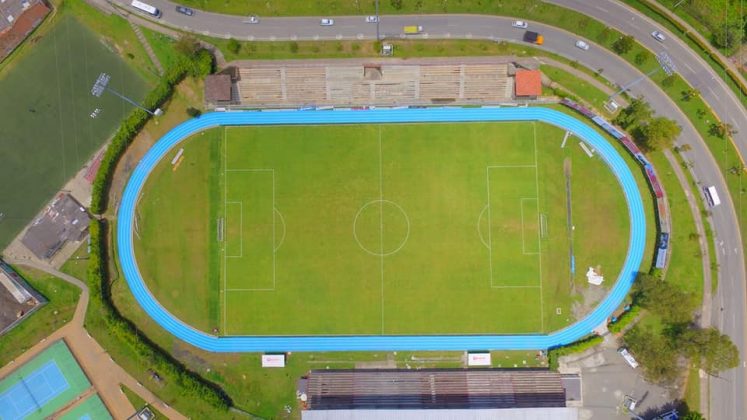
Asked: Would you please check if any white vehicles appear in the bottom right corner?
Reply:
Yes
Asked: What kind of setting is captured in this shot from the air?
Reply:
sports ground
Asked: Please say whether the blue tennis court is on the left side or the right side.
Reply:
left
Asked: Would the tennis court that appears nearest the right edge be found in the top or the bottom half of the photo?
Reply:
bottom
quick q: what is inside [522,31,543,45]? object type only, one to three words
vehicle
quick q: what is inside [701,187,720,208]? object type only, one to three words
vehicle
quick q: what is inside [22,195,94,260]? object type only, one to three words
building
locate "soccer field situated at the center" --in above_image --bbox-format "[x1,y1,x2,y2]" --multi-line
[222,124,544,336]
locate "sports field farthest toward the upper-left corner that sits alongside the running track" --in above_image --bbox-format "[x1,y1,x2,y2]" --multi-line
[0,15,154,252]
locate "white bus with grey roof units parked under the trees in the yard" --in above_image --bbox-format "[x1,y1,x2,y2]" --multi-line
[614,344,637,370]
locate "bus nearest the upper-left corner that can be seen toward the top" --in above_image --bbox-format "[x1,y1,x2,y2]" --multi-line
[131,0,163,20]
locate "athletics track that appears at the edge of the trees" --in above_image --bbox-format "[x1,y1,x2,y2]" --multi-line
[118,109,645,353]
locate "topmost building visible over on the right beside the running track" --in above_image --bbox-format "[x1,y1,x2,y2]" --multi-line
[512,70,542,100]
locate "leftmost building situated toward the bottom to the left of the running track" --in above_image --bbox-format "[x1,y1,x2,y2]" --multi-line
[0,257,53,337]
